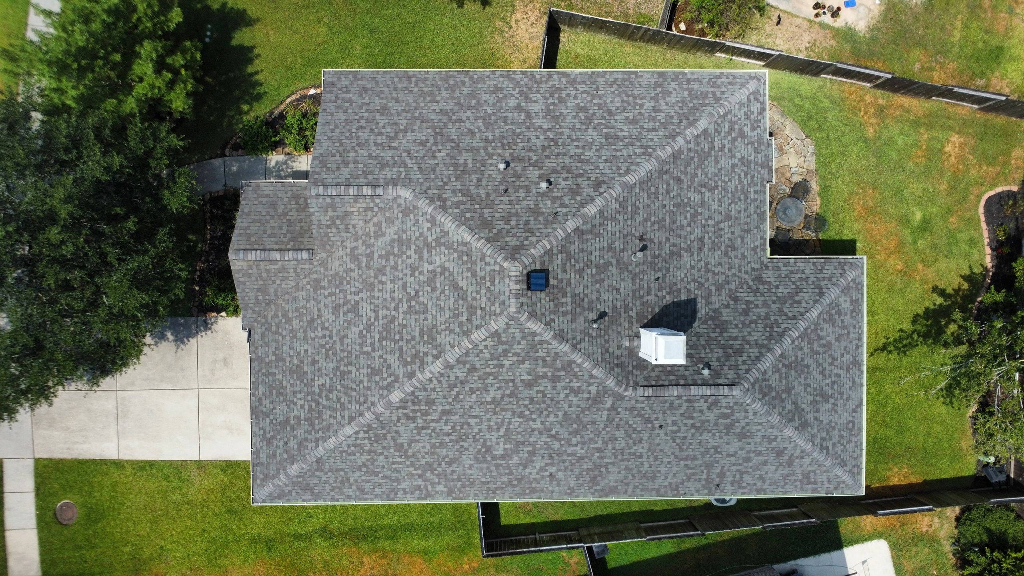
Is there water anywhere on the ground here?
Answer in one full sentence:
No, water can't be seen anywhere here.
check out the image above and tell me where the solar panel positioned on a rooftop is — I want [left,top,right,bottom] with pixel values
[531,272,546,290]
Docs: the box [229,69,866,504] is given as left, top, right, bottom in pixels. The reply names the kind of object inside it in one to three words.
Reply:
house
